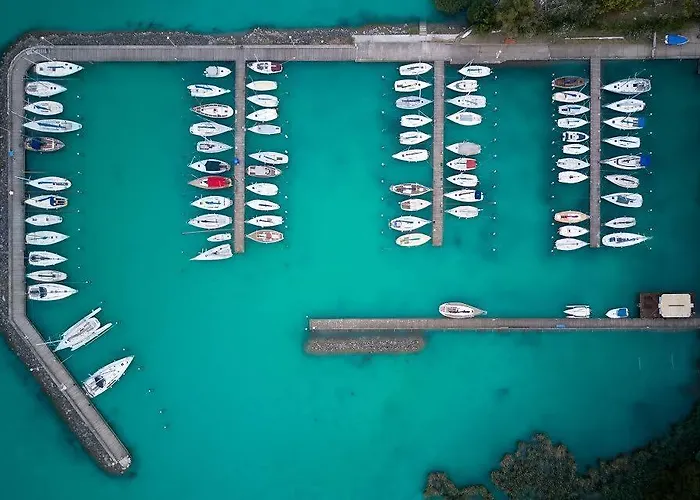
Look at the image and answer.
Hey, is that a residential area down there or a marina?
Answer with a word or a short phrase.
marina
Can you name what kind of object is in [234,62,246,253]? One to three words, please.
pier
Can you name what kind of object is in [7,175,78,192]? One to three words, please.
boat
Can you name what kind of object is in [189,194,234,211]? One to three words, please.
boat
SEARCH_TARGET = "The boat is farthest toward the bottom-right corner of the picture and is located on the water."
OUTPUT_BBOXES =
[604,305,631,319]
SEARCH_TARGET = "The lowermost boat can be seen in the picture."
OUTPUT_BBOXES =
[75,352,138,403]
